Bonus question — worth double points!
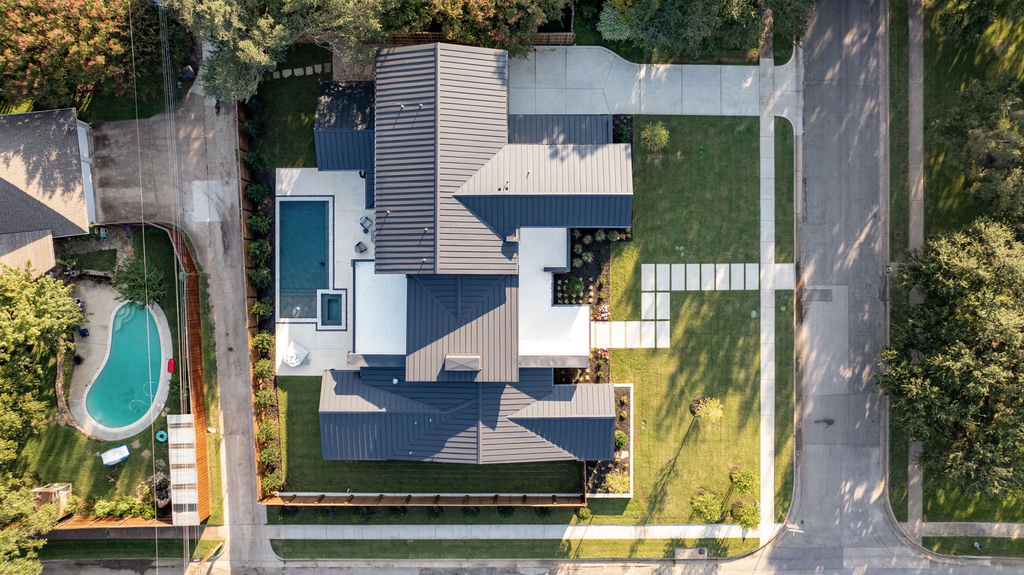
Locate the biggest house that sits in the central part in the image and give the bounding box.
[314,42,633,464]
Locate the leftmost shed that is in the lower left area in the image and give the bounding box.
[32,483,73,519]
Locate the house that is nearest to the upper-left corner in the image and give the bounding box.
[0,107,99,249]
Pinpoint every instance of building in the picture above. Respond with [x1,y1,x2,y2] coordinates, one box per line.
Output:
[0,107,99,249]
[314,42,633,464]
[32,483,73,519]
